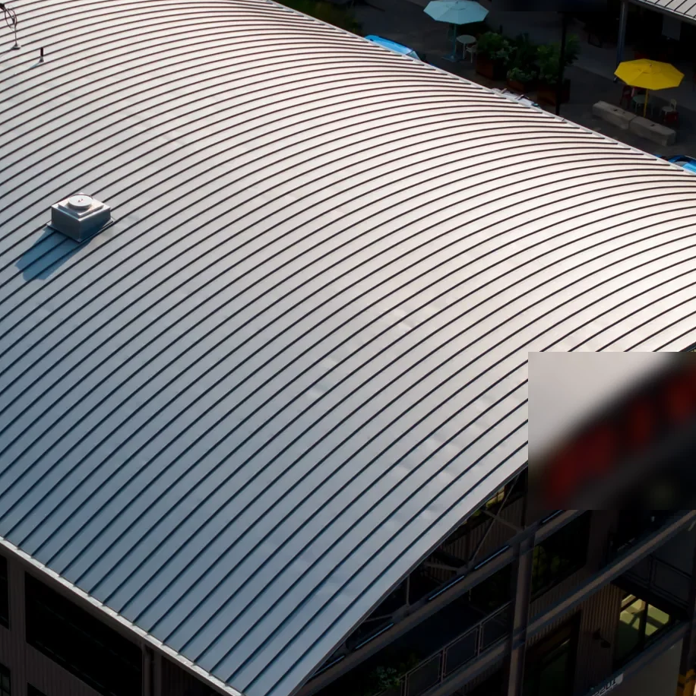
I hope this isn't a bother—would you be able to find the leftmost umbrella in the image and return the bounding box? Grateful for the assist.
[425,0,488,62]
